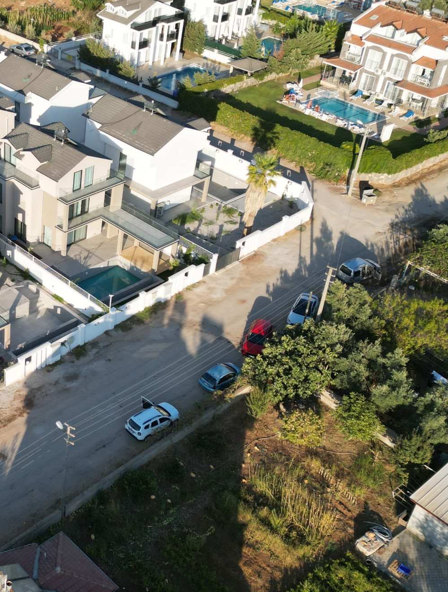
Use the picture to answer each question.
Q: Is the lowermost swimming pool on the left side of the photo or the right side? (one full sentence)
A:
The lowermost swimming pool is on the left side of the image.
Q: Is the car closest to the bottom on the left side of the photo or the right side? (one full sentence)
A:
The car closest to the bottom sits on the left side.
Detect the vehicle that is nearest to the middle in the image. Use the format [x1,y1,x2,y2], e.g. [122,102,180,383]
[244,318,273,355]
